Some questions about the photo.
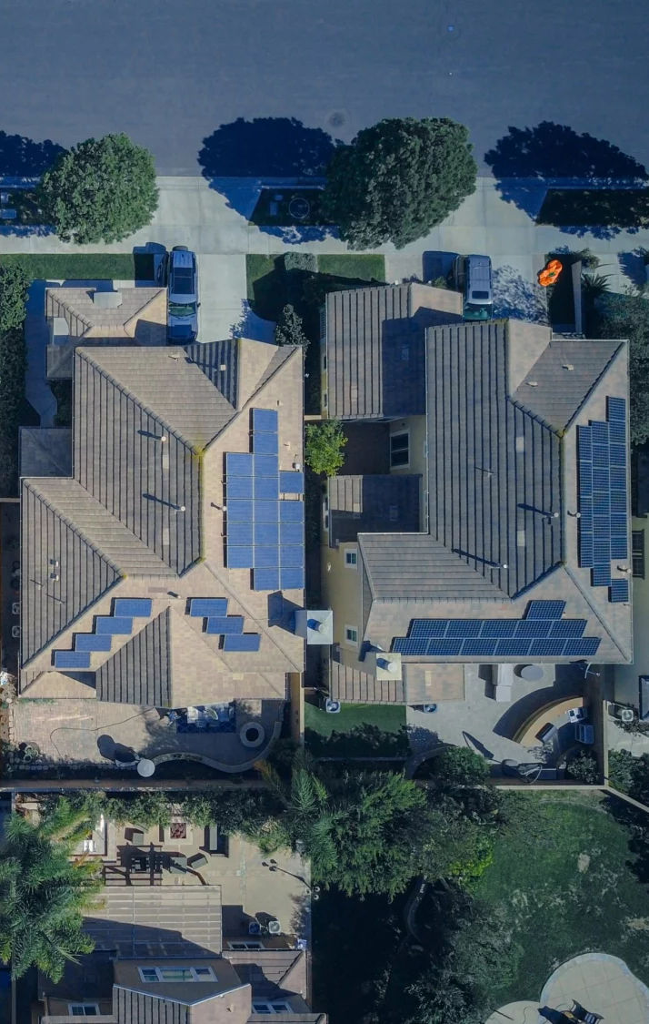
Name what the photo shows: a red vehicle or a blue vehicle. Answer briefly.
blue vehicle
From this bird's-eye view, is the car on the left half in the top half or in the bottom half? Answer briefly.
top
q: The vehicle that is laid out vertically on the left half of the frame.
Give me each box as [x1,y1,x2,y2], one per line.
[159,242,204,345]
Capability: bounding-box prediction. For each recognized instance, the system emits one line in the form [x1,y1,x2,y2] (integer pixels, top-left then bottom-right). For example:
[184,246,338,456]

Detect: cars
[159,242,204,345]
[446,255,495,323]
